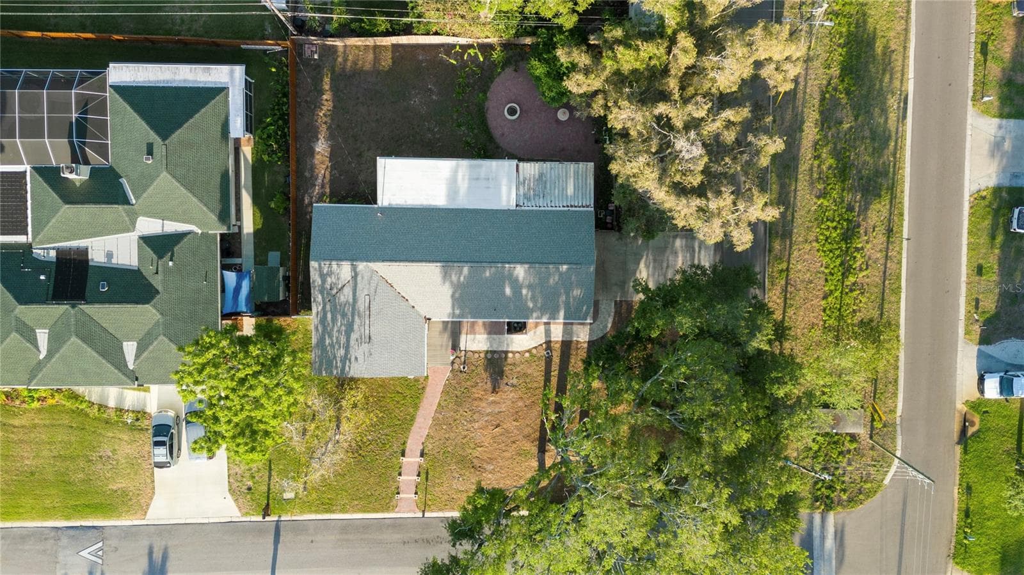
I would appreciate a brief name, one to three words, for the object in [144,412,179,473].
car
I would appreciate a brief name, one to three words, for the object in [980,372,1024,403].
car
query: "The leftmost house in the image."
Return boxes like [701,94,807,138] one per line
[0,63,257,389]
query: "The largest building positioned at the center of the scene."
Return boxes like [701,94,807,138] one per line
[309,155,597,379]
